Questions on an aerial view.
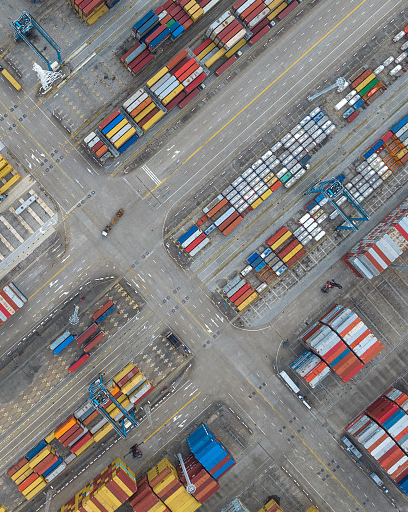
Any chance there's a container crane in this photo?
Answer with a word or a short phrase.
Yes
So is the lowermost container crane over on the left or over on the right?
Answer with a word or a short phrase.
left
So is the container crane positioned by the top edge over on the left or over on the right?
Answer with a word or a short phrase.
left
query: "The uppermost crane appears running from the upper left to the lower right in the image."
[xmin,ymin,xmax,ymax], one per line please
[9,7,66,75]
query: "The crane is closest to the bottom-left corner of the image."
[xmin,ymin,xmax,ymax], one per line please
[87,371,144,443]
